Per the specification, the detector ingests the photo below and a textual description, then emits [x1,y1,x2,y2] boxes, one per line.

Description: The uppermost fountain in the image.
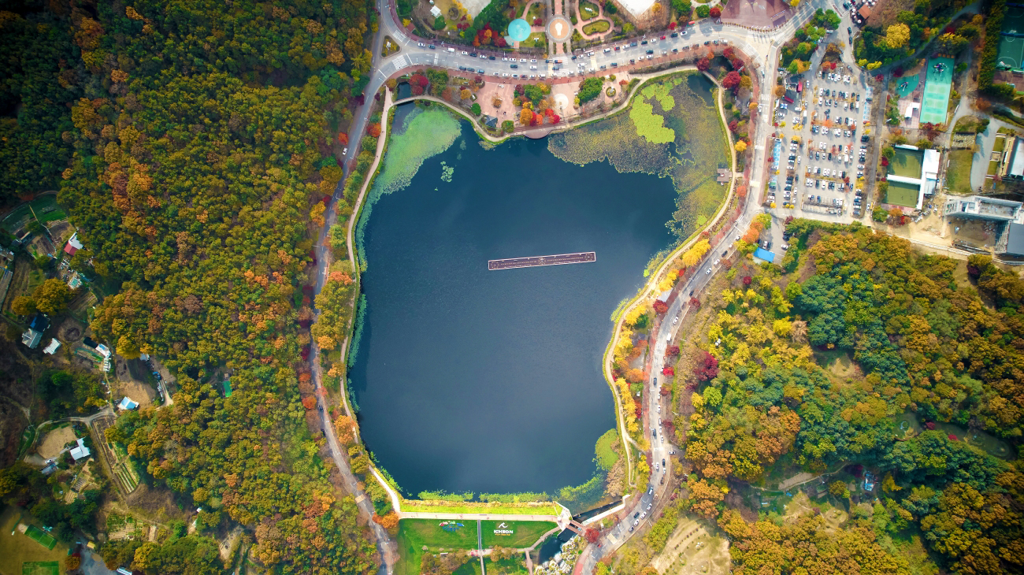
[488,252,596,270]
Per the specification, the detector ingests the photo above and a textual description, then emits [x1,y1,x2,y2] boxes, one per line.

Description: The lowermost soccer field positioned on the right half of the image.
[882,181,920,207]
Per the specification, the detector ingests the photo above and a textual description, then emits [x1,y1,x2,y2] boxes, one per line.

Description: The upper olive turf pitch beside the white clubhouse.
[888,149,922,179]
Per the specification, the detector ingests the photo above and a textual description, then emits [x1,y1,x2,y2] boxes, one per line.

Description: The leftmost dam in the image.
[392,500,556,575]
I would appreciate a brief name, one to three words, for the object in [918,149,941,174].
building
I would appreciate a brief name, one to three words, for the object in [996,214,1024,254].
building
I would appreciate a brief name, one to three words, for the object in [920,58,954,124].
sports court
